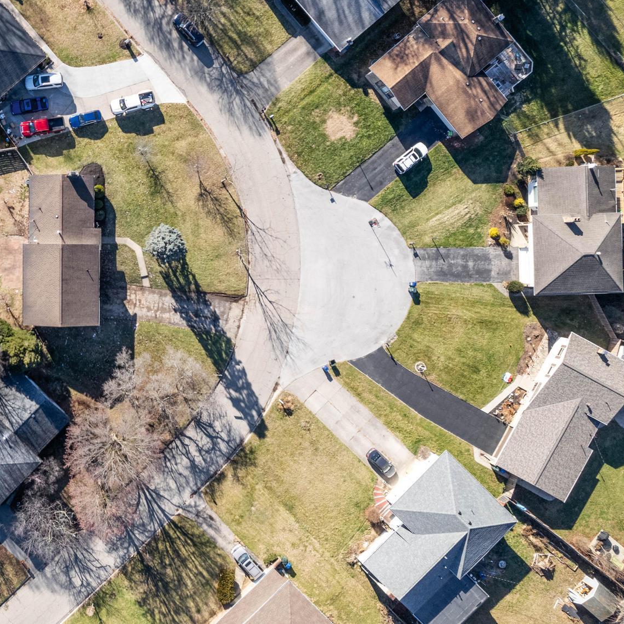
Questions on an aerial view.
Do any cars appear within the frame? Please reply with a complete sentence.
Yes, looking at the shot, I can spot a car.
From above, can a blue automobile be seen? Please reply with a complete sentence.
Yes, there's a blue automobile here.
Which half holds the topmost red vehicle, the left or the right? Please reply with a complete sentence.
It is on the left.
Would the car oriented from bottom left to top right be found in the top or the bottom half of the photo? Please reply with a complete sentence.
The car oriented from bottom left to top right sits in the top half of the picture.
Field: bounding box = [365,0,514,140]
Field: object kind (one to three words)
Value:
house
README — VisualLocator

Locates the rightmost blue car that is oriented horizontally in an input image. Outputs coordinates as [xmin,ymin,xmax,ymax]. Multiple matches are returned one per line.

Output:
[68,111,102,129]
